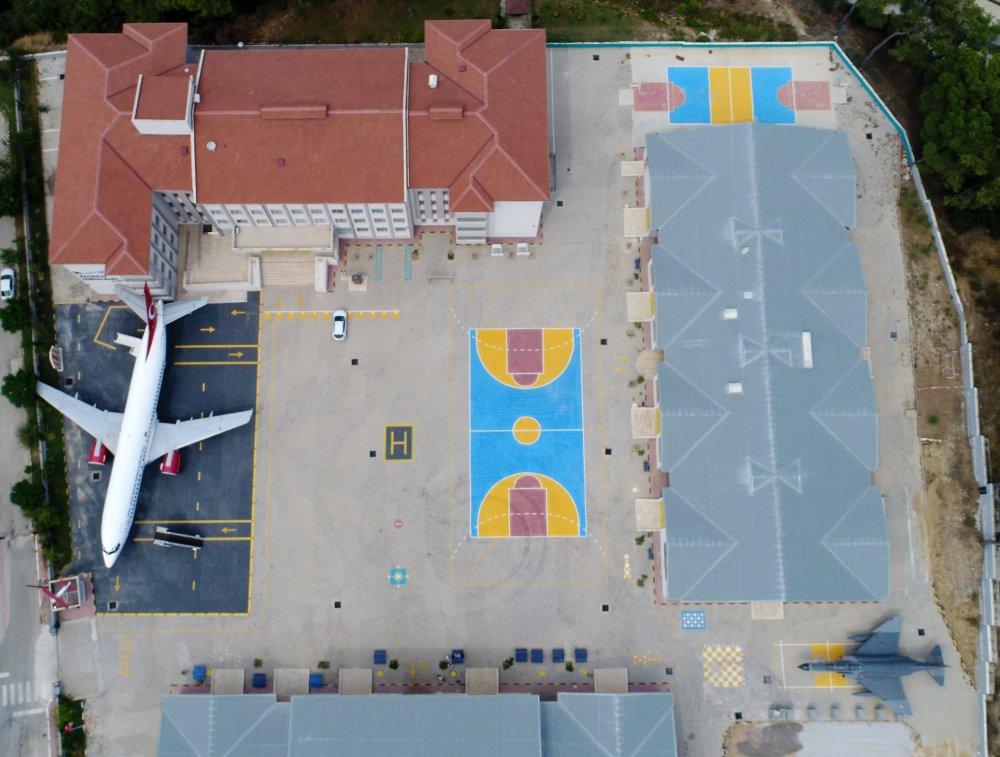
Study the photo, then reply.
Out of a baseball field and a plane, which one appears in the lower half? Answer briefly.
plane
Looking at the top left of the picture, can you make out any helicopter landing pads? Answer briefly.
No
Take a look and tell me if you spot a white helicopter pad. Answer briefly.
No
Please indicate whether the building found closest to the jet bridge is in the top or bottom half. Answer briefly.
top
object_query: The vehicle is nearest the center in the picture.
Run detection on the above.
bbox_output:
[331,309,348,340]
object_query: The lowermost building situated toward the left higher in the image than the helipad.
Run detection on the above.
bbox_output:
[49,21,550,300]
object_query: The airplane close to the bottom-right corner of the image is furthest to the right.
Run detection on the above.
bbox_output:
[797,617,952,713]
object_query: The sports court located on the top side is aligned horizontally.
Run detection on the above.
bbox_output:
[633,65,832,125]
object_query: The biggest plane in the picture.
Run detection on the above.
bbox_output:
[33,276,252,568]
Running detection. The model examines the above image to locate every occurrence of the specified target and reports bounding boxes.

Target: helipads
[385,424,414,462]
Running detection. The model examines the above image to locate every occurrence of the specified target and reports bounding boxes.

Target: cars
[331,309,348,340]
[0,267,16,298]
